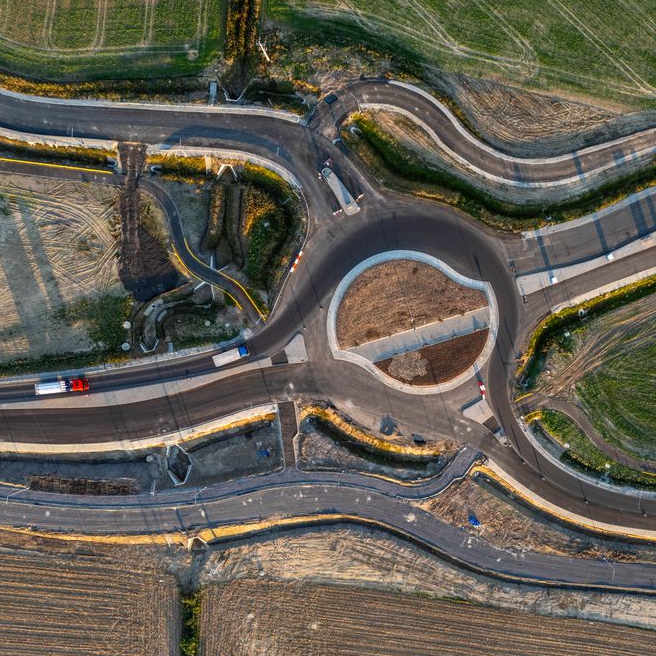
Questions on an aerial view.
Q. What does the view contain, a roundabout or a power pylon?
roundabout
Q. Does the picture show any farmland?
Yes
